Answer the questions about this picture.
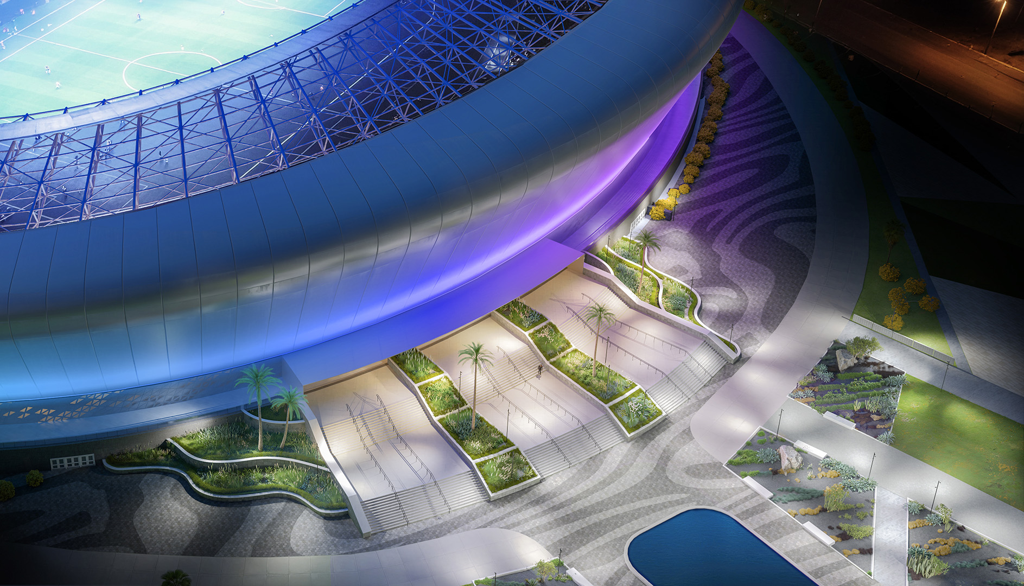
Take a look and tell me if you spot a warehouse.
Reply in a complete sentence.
No, there is no warehouse in the image.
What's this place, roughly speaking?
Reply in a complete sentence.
The picture captures a sports ground.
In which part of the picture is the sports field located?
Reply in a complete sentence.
You can find the sports field in the top left area of the picture.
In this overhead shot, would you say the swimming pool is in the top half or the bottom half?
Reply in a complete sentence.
Seen from above, the swimming pool lies in the bottom half of the view.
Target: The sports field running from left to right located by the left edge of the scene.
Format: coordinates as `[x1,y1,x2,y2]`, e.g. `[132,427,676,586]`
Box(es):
[0,0,365,137]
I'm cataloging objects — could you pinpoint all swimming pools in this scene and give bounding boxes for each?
[628,508,817,586]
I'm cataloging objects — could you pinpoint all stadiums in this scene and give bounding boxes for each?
[0,0,737,475]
